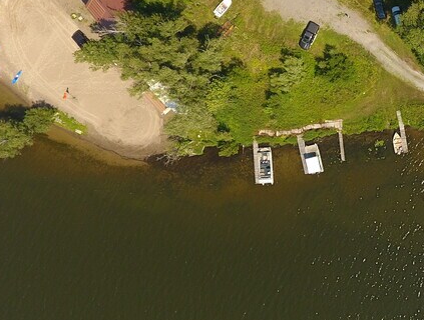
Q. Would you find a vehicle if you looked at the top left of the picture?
Yes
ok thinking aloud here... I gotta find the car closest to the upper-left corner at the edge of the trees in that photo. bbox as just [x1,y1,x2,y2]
[67,28,92,50]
